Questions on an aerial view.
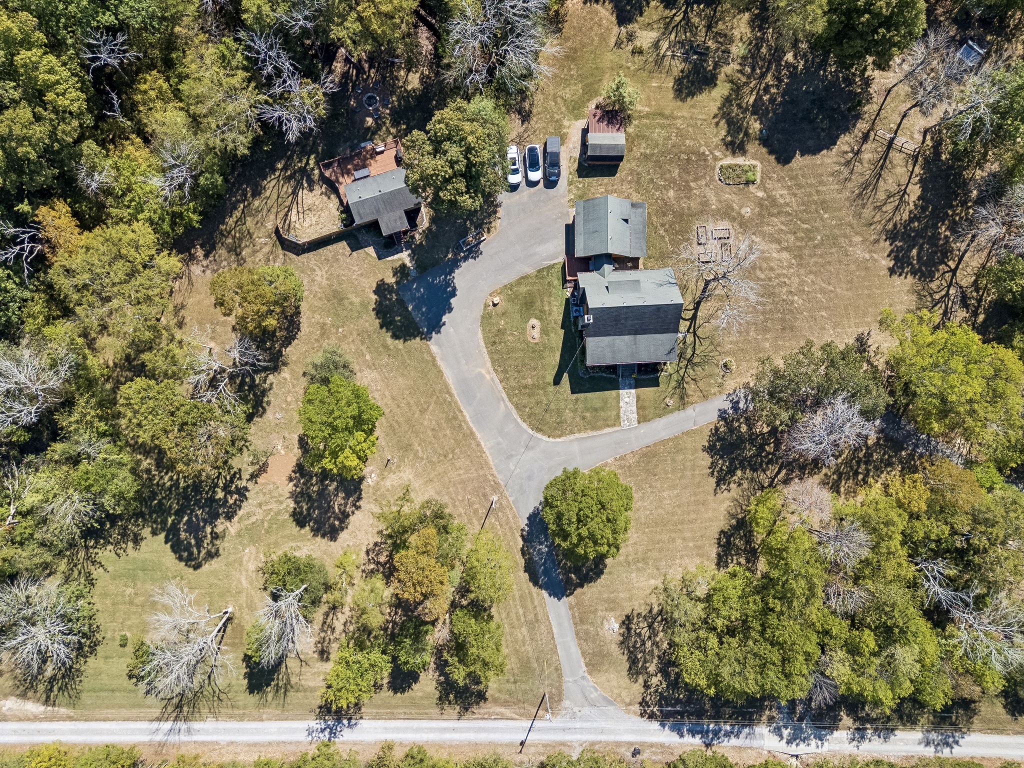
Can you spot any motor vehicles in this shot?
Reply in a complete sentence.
Yes, this view includes a motor vehicle.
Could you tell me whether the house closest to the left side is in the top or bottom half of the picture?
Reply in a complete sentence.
You can find the house closest to the left side in the top half.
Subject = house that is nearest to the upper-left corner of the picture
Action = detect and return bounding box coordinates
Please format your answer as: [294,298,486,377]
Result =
[346,166,421,248]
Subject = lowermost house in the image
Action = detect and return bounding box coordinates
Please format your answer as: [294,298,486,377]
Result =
[575,267,684,376]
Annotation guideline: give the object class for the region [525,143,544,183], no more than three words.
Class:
car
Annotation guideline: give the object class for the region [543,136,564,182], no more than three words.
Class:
truck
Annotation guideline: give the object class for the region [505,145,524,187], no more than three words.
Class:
car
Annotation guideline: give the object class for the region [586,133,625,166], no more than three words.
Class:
shed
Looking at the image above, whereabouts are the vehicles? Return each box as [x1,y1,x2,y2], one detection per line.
[543,136,564,182]
[505,145,524,187]
[525,143,544,183]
